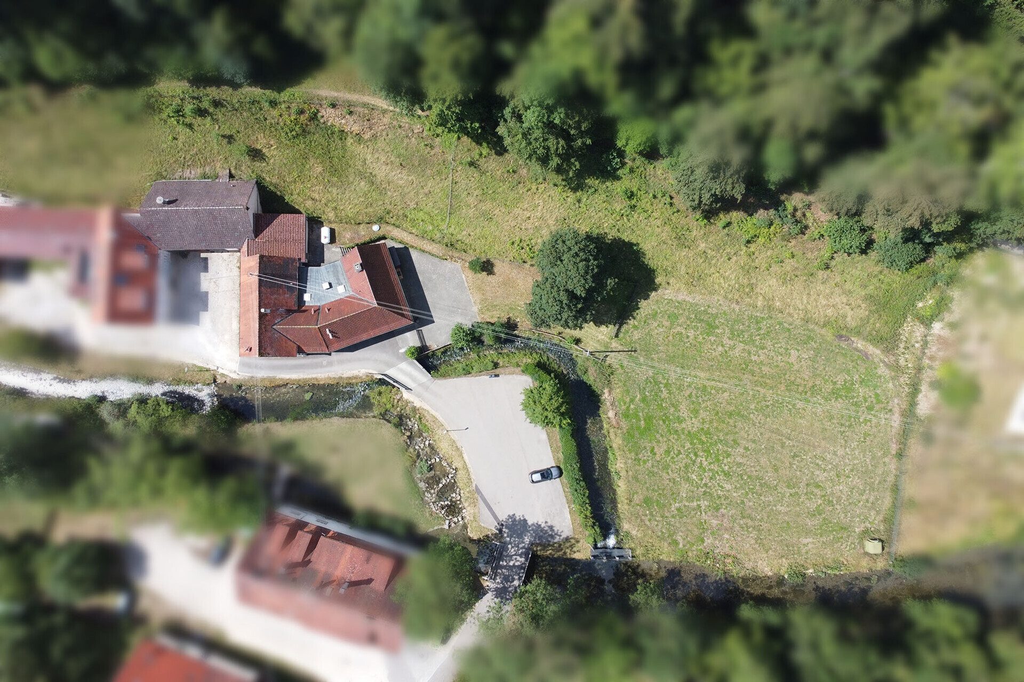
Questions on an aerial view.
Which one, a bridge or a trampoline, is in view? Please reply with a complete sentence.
The image shows a bridge.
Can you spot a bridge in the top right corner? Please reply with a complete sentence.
No, the scene shows no bridge in the top right corner.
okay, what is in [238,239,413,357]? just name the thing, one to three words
house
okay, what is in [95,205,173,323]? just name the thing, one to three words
house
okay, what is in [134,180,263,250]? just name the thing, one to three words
barn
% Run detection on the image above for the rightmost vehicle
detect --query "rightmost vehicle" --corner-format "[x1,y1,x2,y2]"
[528,467,561,484]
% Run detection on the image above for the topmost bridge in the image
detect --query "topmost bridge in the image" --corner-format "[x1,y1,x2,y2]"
[381,359,435,392]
